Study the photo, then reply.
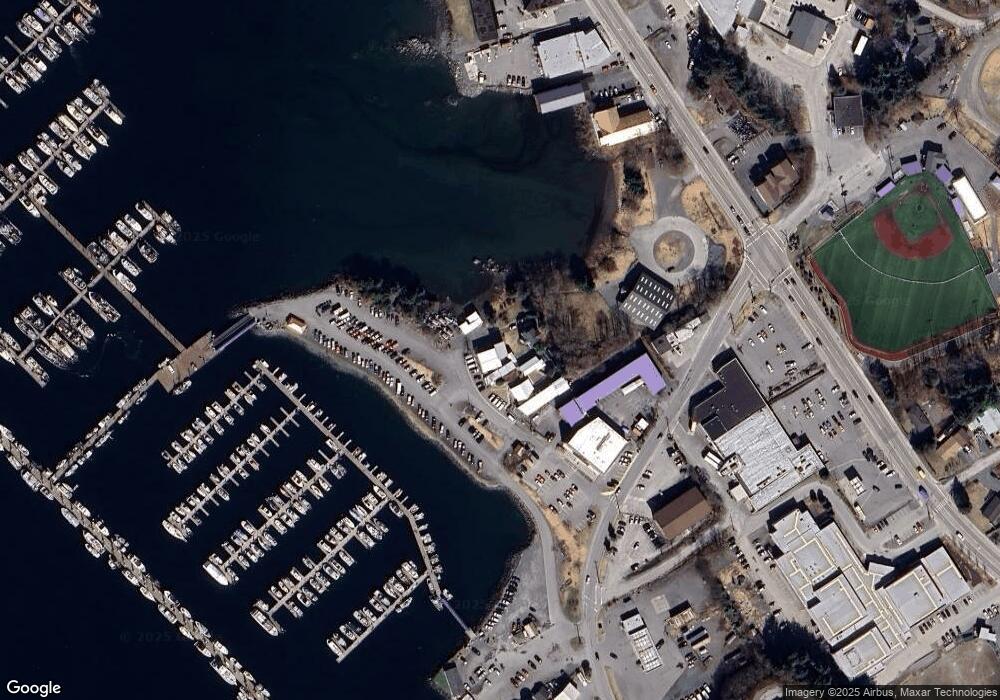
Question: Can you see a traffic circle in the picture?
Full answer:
Yes, you can see a traffic circle in this photo.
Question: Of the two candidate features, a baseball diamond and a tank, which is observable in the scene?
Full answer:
Looking from above, you can make out a baseball diamond.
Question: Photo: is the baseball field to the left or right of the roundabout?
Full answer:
It is on the right side of the roundabout that the baseball field is positioned.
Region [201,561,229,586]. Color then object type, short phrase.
white boat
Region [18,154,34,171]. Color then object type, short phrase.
gray boat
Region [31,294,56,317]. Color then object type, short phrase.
white boat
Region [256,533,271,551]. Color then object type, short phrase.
gray boat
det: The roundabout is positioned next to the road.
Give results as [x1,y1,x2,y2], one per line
[632,216,709,278]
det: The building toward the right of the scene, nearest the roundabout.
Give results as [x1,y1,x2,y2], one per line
[619,273,675,330]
